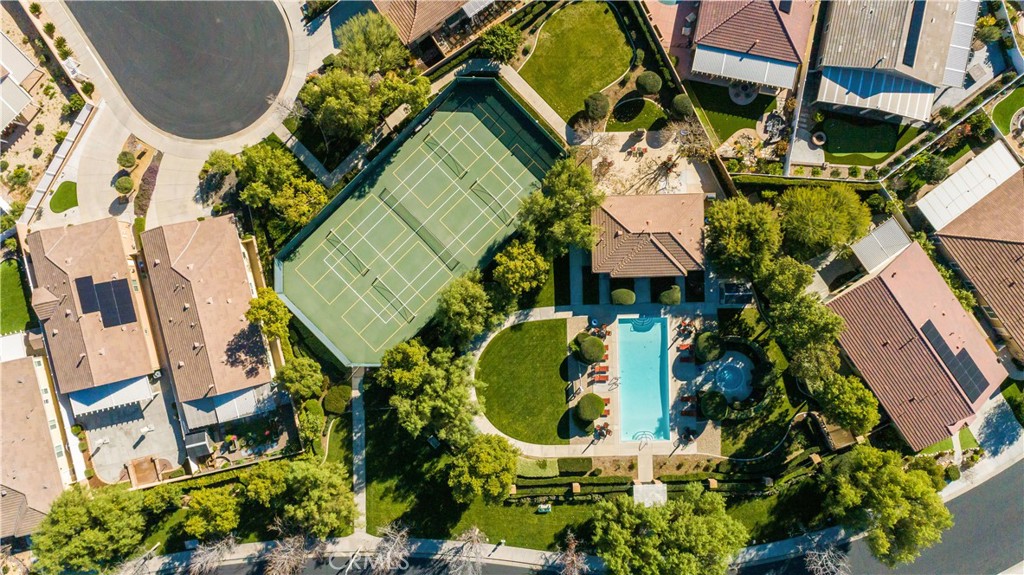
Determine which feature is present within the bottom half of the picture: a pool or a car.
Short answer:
pool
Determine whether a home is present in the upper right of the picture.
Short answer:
Yes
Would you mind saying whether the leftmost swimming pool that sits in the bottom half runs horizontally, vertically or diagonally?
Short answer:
vertically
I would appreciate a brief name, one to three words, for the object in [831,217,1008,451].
house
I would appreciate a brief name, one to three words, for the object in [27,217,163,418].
house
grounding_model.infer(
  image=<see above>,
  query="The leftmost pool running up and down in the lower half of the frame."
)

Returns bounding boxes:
[616,314,670,448]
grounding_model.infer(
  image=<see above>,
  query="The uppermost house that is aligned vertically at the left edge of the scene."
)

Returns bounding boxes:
[0,30,50,136]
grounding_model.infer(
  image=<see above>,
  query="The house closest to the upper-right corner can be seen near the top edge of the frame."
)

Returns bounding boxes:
[810,0,980,126]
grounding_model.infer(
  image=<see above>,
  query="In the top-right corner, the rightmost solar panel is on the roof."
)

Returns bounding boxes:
[903,0,925,64]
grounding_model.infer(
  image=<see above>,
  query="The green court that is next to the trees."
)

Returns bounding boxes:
[283,85,565,363]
